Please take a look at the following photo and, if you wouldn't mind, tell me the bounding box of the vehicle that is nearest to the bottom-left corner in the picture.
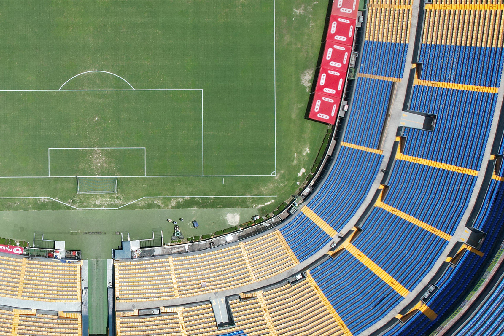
[170,223,185,243]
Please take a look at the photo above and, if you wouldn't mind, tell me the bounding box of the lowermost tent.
[304,93,340,126]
